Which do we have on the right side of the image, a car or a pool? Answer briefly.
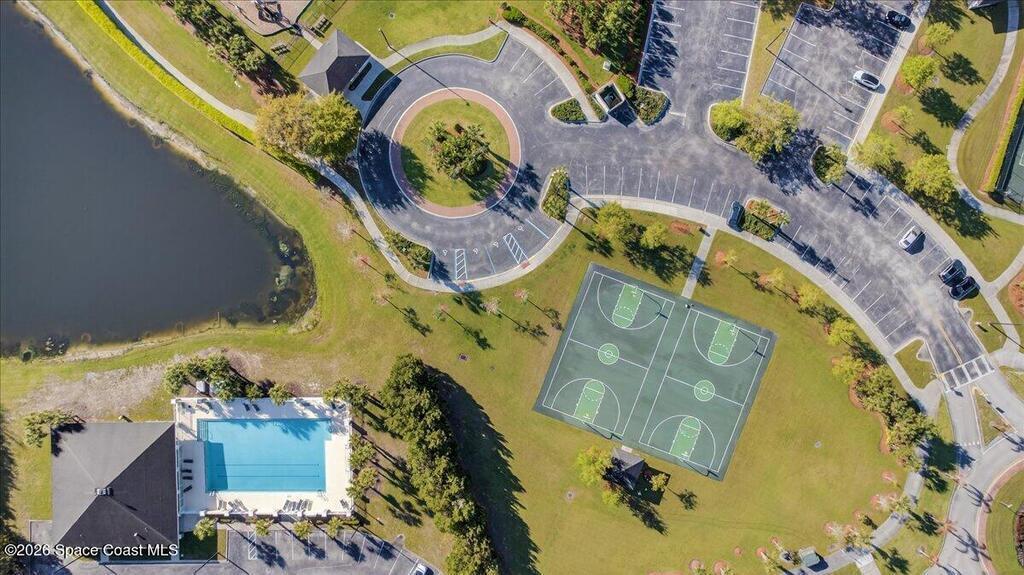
car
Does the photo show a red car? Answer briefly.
No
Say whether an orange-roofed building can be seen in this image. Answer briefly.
No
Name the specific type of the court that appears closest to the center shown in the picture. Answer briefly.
basketball court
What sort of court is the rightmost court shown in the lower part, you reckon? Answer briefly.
basketball court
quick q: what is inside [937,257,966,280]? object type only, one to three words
car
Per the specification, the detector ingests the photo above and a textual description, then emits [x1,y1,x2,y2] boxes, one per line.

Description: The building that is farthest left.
[51,421,185,548]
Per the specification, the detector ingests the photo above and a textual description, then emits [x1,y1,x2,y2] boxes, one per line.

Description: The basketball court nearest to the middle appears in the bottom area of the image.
[535,263,684,445]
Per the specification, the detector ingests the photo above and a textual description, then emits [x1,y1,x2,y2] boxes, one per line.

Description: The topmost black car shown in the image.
[884,10,912,30]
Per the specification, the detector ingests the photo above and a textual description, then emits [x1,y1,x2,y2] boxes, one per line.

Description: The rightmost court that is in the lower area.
[629,299,777,481]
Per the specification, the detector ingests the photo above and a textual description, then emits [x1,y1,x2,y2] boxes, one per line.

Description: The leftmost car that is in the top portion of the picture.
[728,201,745,229]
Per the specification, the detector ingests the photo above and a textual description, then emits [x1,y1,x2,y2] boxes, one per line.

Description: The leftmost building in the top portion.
[299,30,371,102]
